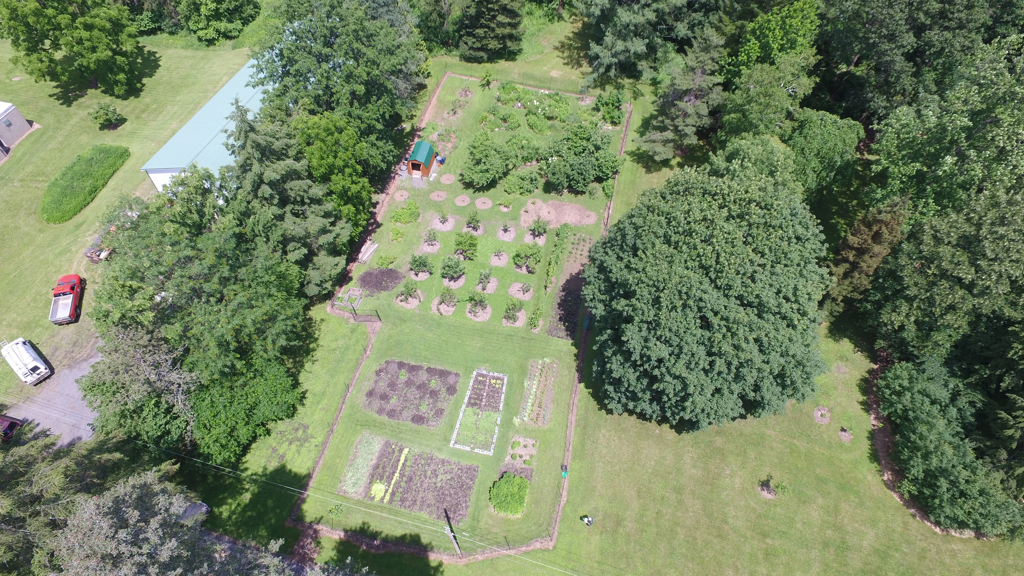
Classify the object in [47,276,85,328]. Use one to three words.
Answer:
truck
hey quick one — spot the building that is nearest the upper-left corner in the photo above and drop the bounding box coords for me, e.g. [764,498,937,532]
[0,102,31,158]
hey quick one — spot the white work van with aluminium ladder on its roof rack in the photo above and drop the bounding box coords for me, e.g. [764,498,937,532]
[1,335,49,384]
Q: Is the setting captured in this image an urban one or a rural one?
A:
rural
